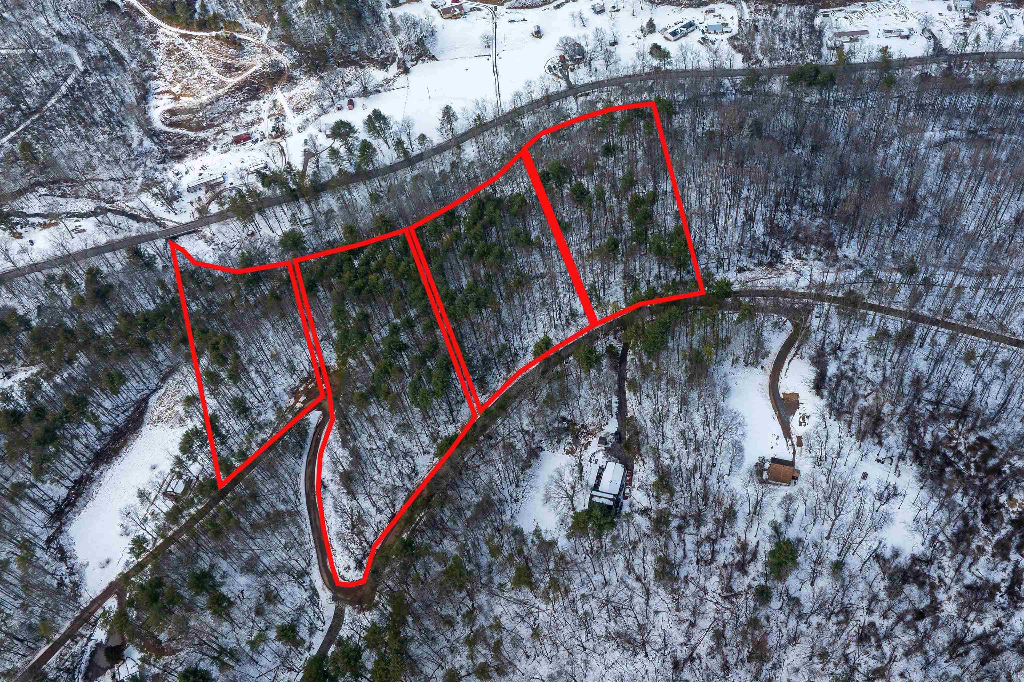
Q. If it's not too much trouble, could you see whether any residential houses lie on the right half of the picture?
Yes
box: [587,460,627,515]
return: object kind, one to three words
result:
house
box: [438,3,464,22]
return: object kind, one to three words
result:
house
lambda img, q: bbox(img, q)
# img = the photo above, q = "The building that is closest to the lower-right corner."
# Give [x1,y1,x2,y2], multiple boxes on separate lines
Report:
[760,461,801,492]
